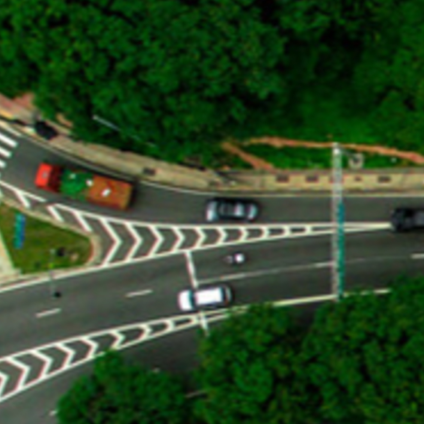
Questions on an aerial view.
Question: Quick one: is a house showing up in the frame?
No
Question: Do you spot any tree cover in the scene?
Yes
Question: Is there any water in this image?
No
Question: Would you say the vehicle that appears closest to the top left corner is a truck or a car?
truck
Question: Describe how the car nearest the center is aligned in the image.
horizontally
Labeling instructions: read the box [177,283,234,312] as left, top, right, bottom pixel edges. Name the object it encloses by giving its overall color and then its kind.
white car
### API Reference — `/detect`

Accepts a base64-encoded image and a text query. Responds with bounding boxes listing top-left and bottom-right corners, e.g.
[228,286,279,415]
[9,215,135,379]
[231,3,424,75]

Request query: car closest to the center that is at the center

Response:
[206,196,260,221]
